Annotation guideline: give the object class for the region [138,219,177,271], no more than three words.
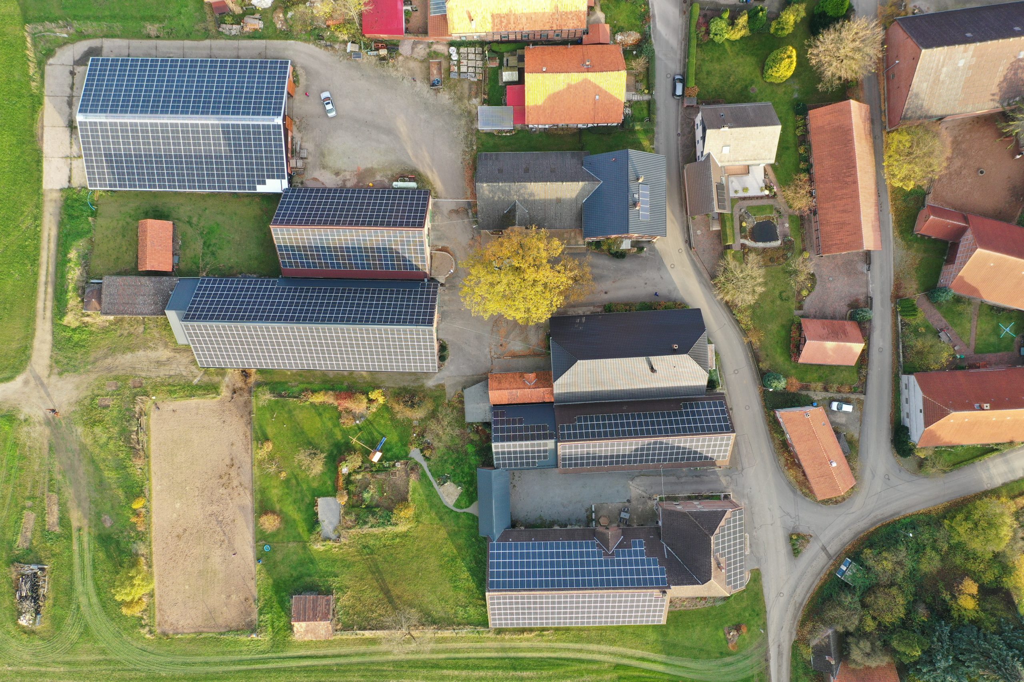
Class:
shed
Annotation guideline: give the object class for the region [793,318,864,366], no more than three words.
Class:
building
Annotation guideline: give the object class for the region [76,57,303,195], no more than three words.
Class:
barn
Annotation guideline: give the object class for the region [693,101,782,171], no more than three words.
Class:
house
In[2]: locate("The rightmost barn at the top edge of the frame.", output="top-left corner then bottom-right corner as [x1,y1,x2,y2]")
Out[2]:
[882,0,1024,126]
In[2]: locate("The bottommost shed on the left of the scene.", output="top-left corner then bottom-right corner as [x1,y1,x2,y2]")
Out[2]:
[291,592,335,640]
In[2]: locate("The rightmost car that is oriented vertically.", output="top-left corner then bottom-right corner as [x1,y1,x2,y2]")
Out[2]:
[673,72,686,98]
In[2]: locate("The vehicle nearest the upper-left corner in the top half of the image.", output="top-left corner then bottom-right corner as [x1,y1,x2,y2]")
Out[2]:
[320,89,336,117]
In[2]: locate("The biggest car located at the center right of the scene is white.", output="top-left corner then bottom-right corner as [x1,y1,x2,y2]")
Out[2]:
[831,401,857,413]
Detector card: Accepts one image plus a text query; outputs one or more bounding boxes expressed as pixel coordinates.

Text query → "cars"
[320,89,336,117]
[673,72,686,98]
[831,401,857,413]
